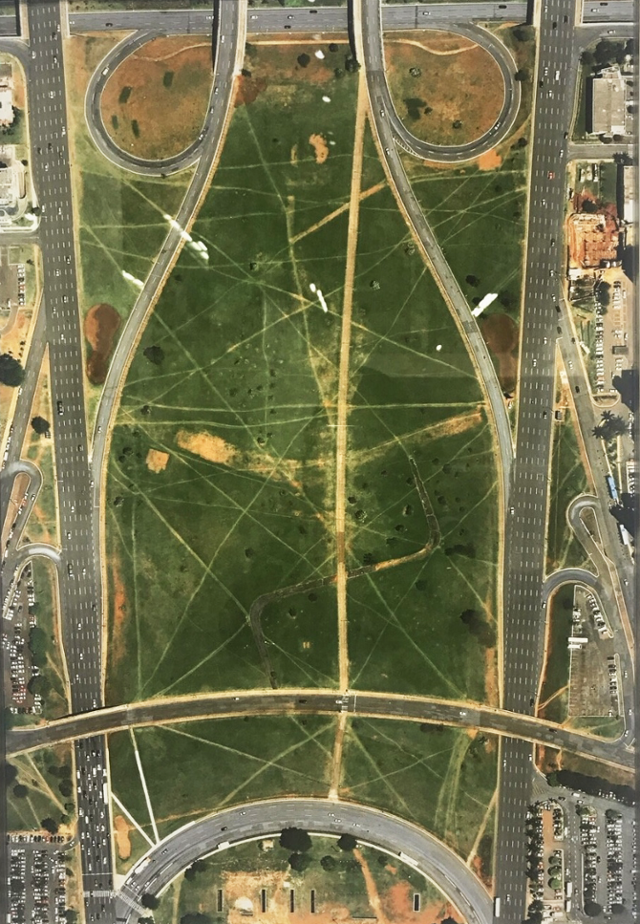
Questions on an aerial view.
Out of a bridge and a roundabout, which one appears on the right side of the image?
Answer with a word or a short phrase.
bridge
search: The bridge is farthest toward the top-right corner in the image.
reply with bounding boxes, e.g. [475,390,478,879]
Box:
[534,0,582,26]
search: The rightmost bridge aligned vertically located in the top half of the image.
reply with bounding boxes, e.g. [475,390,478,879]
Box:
[354,0,385,72]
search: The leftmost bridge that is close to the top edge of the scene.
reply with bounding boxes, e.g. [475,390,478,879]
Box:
[20,0,70,38]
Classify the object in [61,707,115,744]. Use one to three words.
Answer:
bridge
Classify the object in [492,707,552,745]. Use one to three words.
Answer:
bridge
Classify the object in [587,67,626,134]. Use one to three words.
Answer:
building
